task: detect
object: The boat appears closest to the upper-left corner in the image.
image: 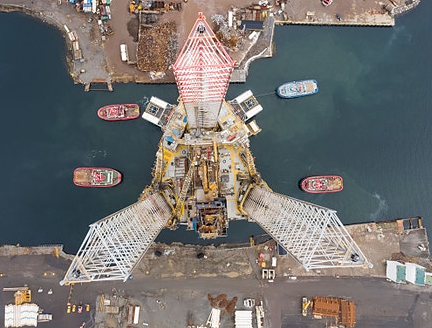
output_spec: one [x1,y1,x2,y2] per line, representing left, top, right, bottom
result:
[96,101,140,120]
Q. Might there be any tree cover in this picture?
No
